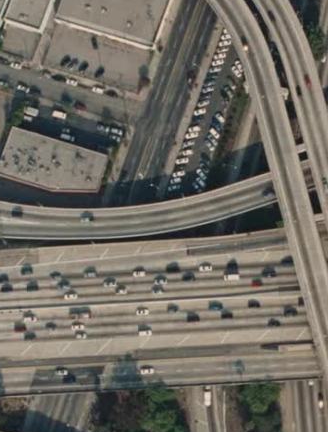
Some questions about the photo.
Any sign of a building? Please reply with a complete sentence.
Yes, a building appears in the view.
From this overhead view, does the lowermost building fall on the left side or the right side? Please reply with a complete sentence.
You can find the lowermost building on the left side of the picture.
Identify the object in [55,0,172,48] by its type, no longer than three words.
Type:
building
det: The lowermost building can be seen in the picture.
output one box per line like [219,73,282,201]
[0,127,109,192]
